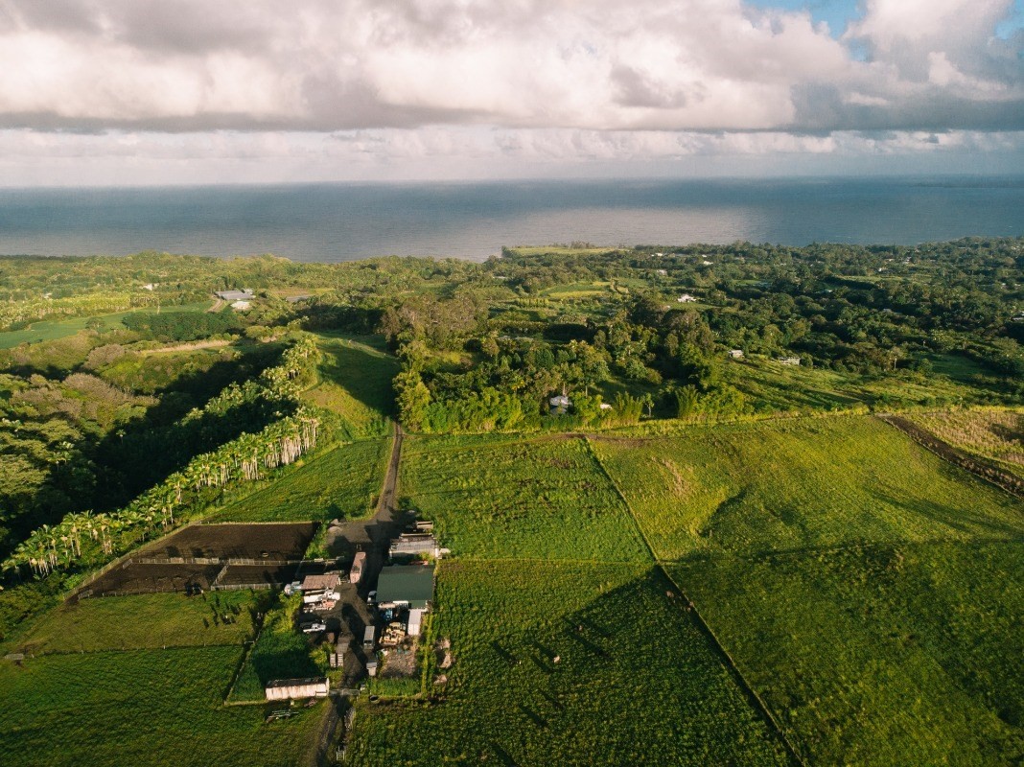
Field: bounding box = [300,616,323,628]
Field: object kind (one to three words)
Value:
vehicle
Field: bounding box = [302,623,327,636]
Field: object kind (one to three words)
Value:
vehicle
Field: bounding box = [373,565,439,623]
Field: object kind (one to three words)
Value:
shed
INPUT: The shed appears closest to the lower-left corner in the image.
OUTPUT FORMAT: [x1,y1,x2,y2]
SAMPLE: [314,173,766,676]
[266,675,331,700]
